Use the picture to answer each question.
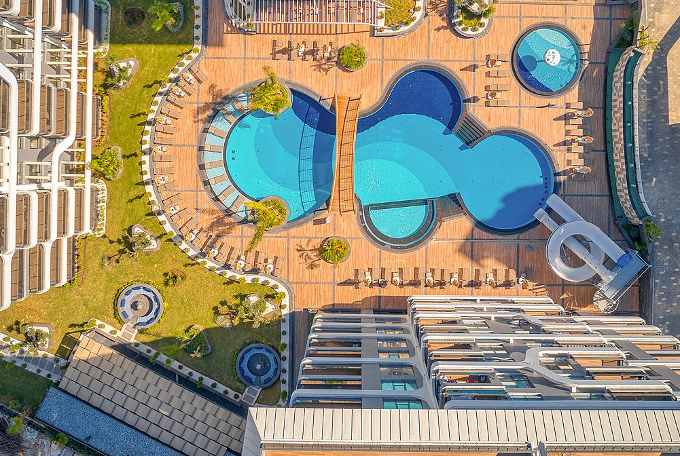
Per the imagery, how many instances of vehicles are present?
0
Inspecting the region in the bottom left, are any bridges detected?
No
